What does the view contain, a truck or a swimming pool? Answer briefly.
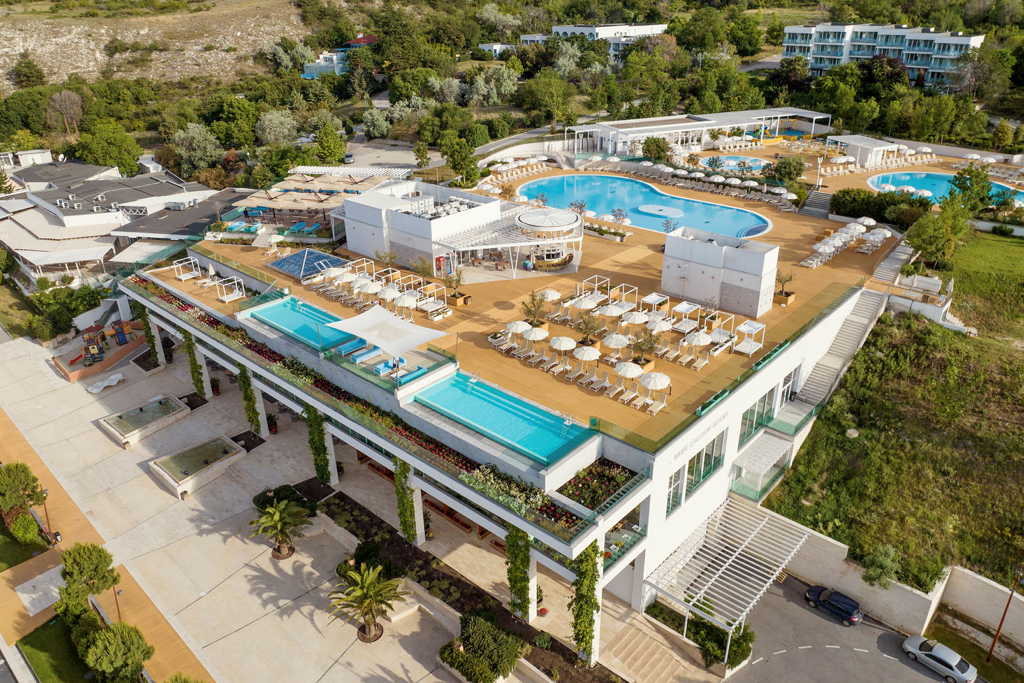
swimming pool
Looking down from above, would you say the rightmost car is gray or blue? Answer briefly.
gray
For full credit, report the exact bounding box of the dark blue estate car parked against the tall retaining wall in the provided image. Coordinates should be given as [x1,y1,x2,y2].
[805,586,867,628]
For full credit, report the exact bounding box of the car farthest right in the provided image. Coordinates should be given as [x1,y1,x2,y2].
[902,636,976,683]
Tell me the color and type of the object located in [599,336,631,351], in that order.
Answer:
white umbrella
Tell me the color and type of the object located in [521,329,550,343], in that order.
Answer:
white umbrella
